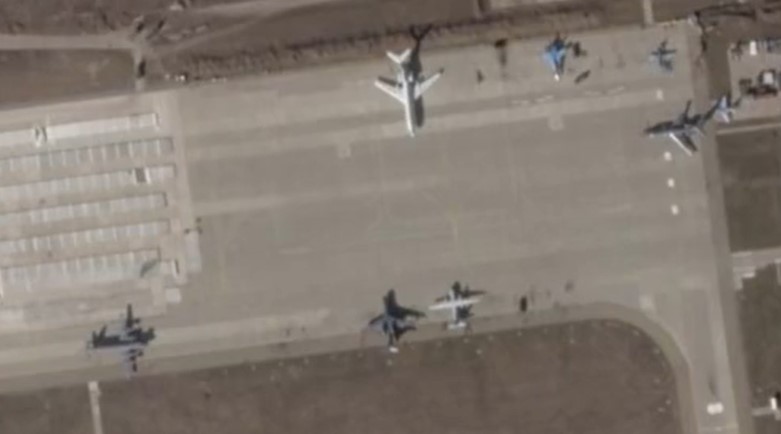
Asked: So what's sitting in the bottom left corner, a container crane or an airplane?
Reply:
airplane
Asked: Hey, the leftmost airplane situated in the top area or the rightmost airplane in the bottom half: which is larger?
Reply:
the leftmost airplane situated in the top area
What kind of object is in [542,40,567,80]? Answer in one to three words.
airplane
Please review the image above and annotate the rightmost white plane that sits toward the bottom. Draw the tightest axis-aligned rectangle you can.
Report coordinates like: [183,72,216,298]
[430,289,480,330]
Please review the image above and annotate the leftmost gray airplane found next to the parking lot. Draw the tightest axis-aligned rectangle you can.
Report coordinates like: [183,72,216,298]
[643,101,706,153]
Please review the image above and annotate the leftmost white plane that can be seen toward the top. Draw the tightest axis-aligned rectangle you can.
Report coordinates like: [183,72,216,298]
[373,50,437,136]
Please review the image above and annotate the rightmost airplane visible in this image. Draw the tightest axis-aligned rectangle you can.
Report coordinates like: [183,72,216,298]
[711,96,734,124]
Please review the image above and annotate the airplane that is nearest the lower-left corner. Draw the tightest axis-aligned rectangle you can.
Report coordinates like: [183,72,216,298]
[92,314,149,381]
